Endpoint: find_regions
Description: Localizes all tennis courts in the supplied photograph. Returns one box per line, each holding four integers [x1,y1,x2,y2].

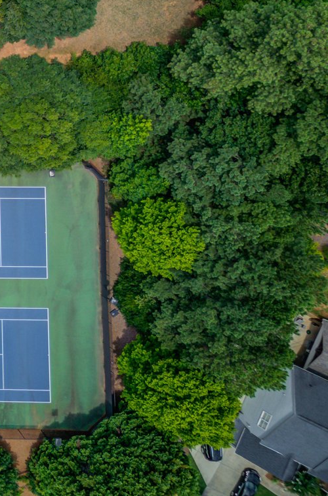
[0,307,50,403]
[0,187,47,279]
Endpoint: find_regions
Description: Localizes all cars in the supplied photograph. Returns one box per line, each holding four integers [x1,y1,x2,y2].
[199,427,224,462]
[227,464,258,496]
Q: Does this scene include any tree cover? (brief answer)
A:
Yes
